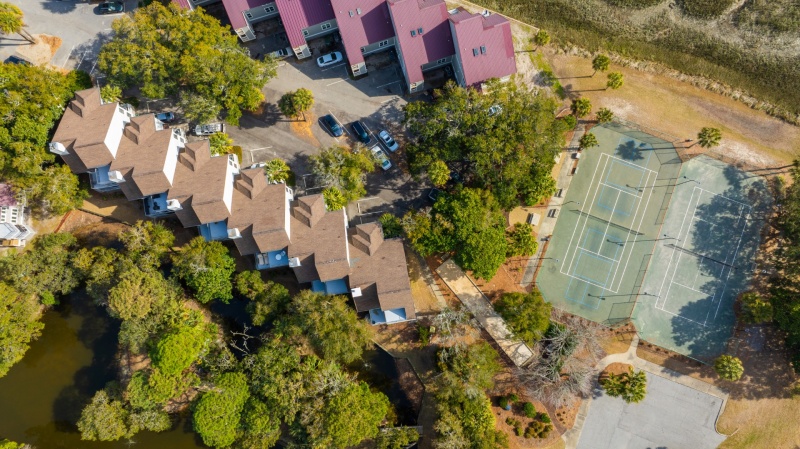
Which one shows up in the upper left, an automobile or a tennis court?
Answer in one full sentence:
The feature located in the upper left is an automobile.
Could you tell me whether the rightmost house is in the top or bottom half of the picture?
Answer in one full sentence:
The rightmost house sits in the top half of the picture.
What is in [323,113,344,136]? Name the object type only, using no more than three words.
car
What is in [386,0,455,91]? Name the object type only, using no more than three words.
house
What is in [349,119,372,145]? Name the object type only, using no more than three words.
car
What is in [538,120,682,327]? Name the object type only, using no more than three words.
tennis court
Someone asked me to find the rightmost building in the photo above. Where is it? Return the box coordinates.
[446,0,517,99]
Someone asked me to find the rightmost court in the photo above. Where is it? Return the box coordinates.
[630,154,774,364]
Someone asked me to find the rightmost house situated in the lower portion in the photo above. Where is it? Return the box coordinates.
[351,222,414,326]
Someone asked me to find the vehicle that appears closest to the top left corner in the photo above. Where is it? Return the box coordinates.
[5,53,34,69]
